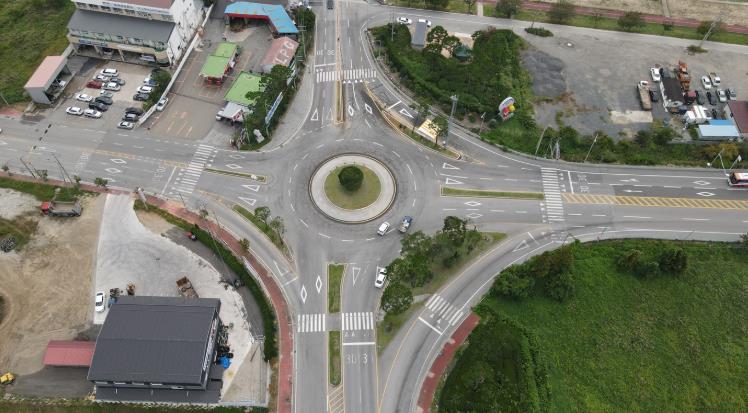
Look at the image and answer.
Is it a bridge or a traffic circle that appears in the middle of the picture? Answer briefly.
traffic circle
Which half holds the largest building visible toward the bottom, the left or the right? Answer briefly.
left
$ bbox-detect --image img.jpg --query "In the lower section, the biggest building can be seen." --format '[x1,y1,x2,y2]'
[89,298,227,409]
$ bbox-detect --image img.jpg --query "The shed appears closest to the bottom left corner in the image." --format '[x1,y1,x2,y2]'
[43,341,99,367]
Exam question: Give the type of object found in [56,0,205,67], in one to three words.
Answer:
building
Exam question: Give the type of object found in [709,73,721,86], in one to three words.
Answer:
vehicle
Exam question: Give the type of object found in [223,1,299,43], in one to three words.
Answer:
building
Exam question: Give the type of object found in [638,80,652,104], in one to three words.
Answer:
vehicle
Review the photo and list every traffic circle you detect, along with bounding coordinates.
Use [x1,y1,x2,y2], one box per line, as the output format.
[278,131,427,254]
